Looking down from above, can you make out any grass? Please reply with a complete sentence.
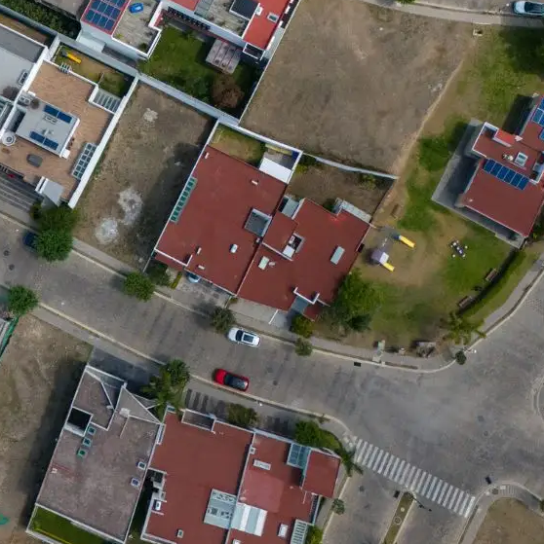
Yes, grass shows up in the scene.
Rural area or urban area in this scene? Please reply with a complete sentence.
From above, the setting appears urban.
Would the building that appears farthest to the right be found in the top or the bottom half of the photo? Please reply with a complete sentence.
Seen from above, the building that appears farthest to the right lies in the top half of the view.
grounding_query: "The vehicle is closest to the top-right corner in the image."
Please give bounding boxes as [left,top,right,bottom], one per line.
[512,0,544,16]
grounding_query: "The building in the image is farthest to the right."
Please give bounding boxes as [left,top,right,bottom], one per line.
[454,93,544,238]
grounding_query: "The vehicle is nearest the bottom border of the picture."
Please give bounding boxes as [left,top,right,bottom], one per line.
[213,368,249,391]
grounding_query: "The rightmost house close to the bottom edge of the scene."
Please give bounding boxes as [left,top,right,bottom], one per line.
[223,423,341,544]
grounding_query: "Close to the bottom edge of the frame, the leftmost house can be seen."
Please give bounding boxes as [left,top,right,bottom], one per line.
[34,361,161,543]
